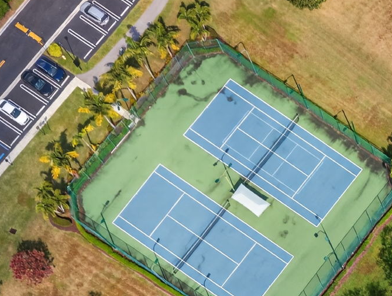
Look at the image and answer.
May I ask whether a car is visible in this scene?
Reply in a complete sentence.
Yes, there's a car here.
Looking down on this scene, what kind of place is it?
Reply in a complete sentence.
The picture captures a sports ground.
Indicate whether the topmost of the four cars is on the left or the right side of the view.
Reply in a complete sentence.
It is on the left.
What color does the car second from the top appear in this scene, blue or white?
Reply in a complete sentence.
In this view, the car second from the top is blue.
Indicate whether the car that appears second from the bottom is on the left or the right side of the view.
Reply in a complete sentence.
The car that appears second from the bottom sits on the left side.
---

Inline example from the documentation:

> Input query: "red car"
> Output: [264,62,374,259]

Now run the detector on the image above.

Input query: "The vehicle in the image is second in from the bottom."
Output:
[20,69,54,95]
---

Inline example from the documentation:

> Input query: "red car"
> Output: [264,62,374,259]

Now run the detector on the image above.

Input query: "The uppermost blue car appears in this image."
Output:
[34,54,67,80]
